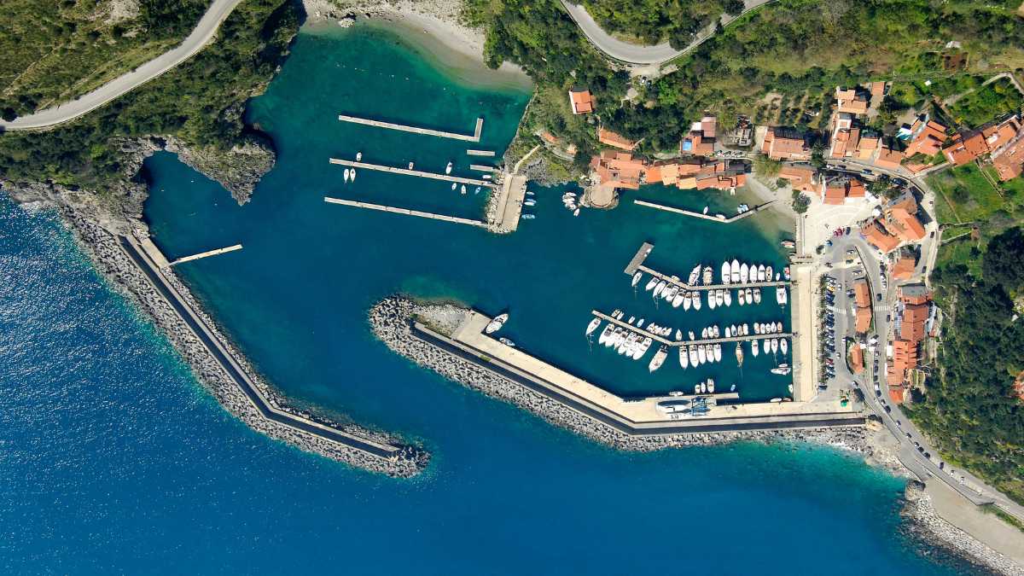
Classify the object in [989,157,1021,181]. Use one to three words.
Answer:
house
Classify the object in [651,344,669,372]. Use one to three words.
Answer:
boat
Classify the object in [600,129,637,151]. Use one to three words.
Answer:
house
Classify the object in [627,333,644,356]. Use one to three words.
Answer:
boat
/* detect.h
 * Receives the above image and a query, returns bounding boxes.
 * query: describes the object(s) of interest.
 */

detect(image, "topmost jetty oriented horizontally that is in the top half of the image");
[339,115,482,142]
